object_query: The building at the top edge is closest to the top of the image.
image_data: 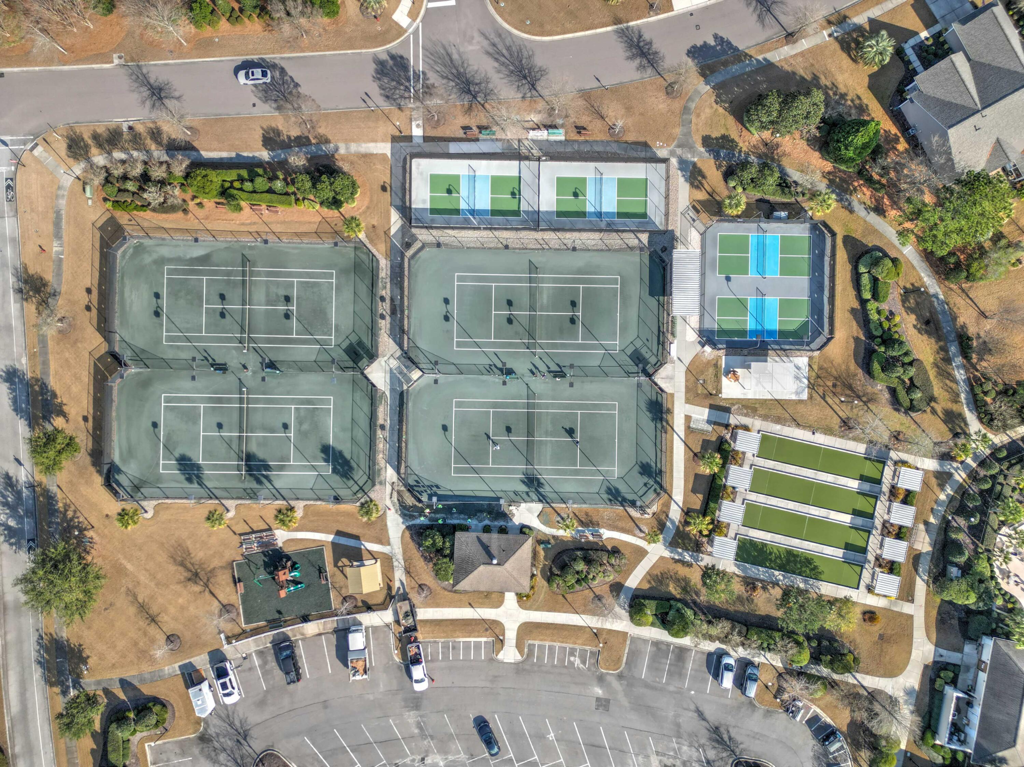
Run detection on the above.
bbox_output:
[897,0,1024,187]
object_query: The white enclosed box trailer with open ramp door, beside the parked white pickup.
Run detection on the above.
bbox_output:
[184,671,211,722]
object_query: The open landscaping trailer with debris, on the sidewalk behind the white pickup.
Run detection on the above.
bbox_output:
[393,586,421,642]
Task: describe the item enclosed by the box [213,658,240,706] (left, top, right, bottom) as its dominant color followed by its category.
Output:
white truck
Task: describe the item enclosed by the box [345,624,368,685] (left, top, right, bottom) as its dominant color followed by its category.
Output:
white truck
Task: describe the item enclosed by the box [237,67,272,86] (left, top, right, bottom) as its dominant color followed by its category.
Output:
white car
